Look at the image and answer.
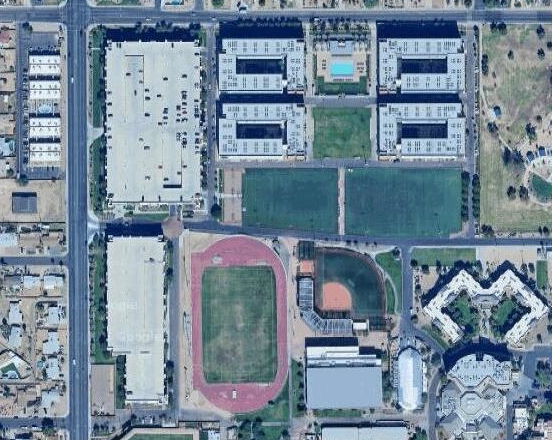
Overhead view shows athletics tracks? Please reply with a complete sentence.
Yes, there's an athletics track down there.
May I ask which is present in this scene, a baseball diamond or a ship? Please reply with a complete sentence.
Looking from above, you can make out a baseball diamond.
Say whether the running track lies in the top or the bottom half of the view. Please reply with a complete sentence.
You can find the running track in the bottom half.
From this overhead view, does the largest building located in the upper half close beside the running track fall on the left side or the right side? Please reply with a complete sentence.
The largest building located in the upper half close beside the running track appears in the left half of the scene.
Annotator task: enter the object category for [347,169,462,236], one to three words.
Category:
sports field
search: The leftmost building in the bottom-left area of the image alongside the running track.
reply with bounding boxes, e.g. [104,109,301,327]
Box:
[107,236,168,406]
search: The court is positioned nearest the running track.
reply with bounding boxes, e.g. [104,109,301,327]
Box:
[225,197,242,220]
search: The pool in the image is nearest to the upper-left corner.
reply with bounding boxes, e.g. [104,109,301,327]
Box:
[36,101,59,114]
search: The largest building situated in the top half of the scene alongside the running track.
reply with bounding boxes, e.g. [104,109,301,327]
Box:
[107,40,201,208]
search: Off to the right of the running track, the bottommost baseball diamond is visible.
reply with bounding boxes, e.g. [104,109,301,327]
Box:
[316,247,386,327]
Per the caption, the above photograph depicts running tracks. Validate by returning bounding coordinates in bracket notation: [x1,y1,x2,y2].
[191,235,289,414]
